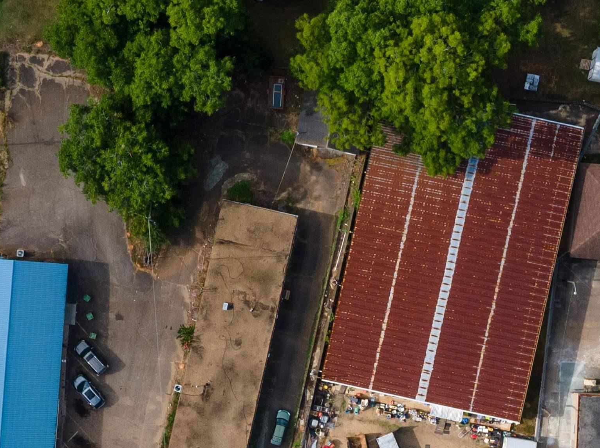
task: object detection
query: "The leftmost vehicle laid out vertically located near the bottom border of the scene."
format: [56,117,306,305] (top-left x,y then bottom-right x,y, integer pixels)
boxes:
[270,408,291,447]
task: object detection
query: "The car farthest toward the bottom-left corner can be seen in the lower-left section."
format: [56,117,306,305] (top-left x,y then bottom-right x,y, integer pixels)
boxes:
[73,374,107,409]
